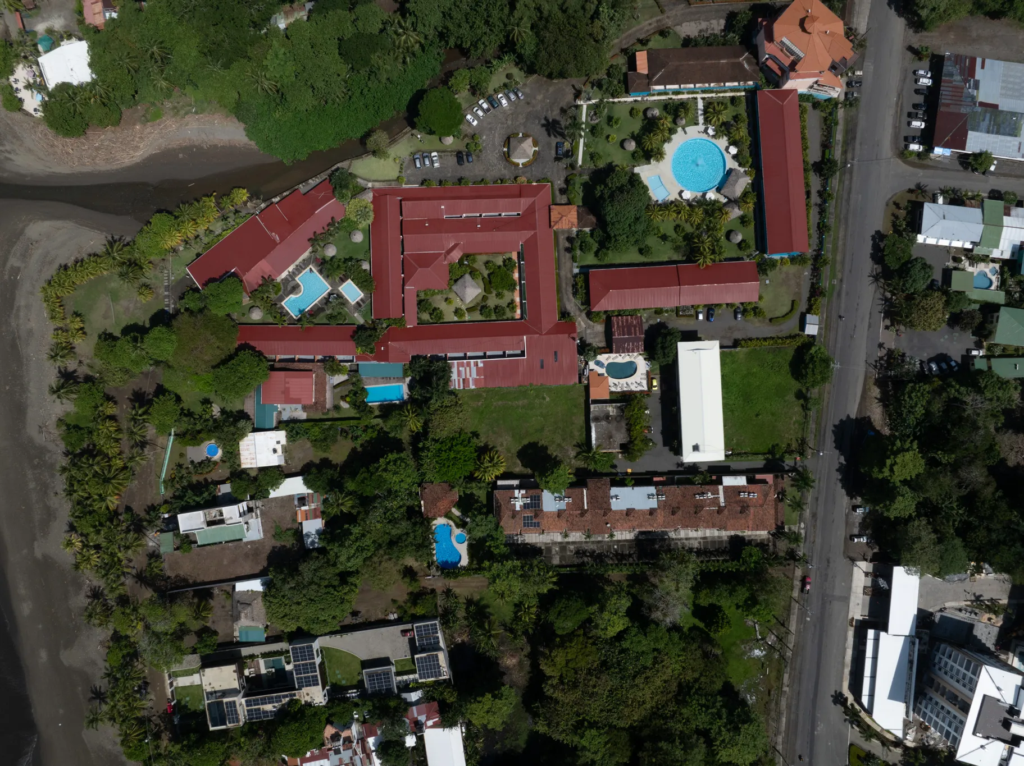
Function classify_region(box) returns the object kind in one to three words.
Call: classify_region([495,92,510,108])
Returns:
car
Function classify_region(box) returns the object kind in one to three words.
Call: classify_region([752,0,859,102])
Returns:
building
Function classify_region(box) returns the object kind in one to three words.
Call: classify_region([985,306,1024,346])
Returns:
house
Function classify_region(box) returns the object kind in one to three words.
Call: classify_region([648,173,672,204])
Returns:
swimming pool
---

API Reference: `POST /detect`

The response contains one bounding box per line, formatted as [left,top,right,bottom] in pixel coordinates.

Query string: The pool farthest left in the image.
[205,443,220,458]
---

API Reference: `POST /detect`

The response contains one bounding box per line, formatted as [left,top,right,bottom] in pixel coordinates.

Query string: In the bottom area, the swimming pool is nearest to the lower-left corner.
[262,656,288,690]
